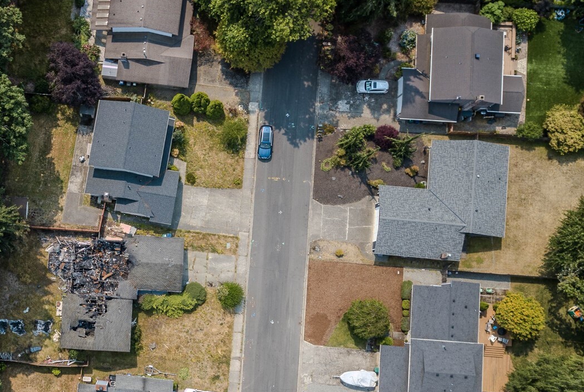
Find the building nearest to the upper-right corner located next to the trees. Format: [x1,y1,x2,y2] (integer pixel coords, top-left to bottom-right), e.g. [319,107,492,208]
[384,12,525,123]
